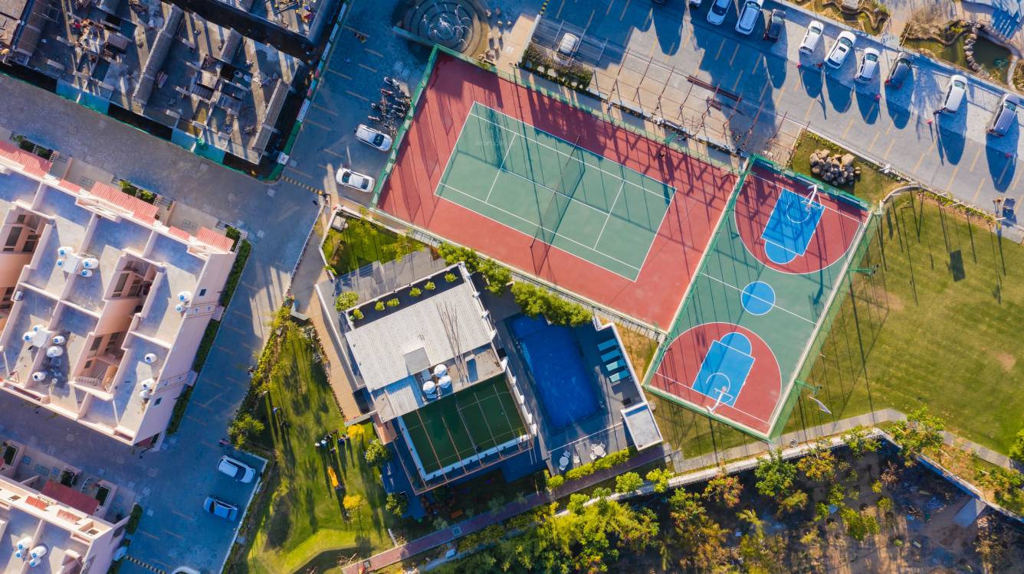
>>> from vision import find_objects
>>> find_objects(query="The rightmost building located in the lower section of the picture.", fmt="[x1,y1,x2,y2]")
[618,398,663,450]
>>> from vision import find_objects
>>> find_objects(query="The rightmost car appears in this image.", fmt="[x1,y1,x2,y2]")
[985,93,1018,139]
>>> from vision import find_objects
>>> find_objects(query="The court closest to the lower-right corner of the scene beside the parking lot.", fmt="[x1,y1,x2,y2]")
[643,156,875,442]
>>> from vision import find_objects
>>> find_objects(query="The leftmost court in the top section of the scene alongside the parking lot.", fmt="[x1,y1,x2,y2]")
[372,52,737,334]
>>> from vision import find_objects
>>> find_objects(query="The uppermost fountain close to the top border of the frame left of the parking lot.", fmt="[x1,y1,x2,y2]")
[395,0,485,64]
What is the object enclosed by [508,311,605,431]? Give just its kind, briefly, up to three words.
swimming pool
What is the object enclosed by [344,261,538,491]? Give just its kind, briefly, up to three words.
building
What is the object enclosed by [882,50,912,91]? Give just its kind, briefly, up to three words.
car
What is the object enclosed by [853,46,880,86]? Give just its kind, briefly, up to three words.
car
